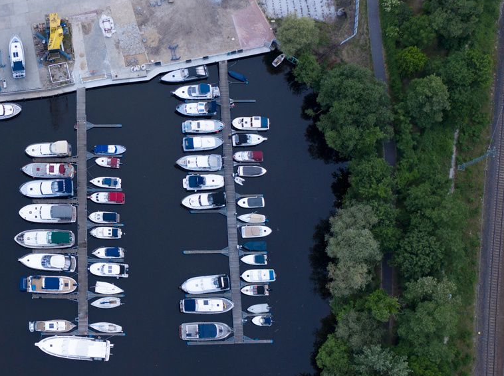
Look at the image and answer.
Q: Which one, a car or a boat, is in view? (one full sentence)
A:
The image shows a boat.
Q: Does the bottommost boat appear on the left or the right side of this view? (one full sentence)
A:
The bottommost boat appears in the left half of the scene.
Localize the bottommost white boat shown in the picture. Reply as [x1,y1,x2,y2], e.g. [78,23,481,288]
[34,333,112,361]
